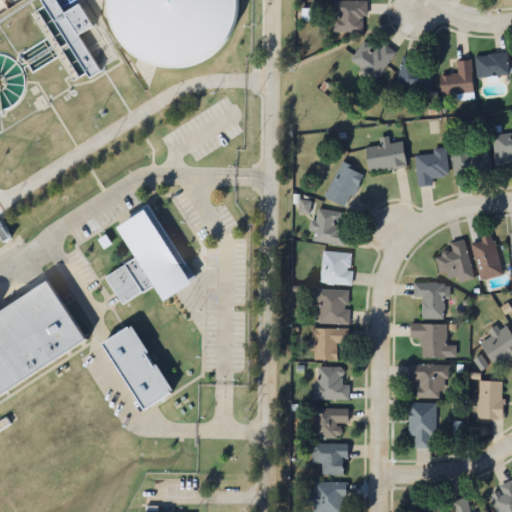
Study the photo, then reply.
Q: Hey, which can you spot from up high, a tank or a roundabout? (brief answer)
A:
tank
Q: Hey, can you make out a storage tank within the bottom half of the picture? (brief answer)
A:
No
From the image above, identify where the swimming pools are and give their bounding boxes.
[482,84,508,97]
[488,276,510,289]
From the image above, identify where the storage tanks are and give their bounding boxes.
[0,54,30,110]
[106,0,239,68]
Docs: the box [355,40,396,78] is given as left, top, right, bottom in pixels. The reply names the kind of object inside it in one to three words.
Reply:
house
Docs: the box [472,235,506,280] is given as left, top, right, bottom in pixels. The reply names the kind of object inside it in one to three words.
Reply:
house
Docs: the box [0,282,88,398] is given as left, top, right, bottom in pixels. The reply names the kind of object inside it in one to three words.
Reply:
building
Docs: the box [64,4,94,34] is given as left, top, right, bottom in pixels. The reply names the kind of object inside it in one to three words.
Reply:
building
